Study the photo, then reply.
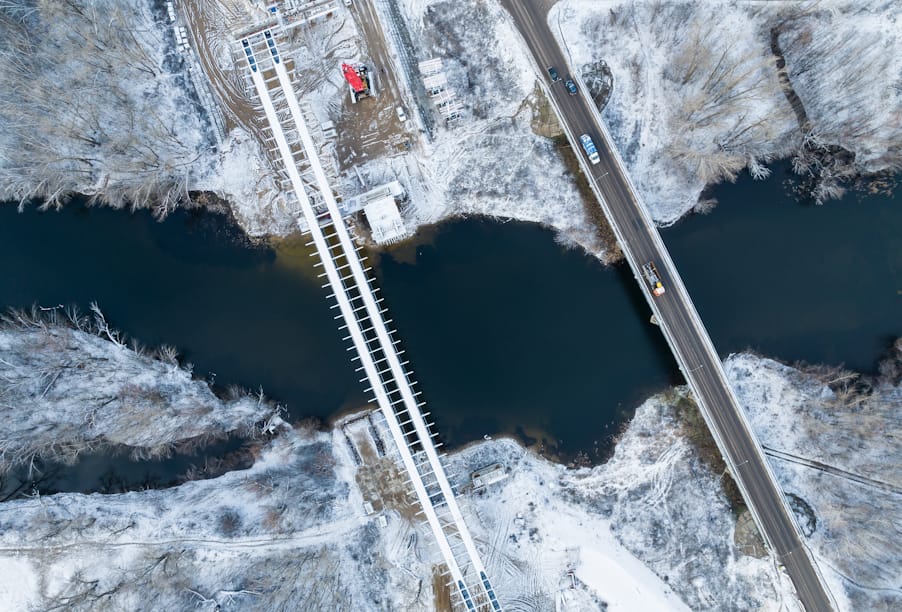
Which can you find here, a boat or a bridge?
bridge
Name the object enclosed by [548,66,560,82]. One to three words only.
vehicle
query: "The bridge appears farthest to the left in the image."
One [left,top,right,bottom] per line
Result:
[226,24,507,612]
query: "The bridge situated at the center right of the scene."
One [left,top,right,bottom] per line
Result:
[544,73,810,558]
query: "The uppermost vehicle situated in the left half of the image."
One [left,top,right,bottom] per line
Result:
[343,64,375,103]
